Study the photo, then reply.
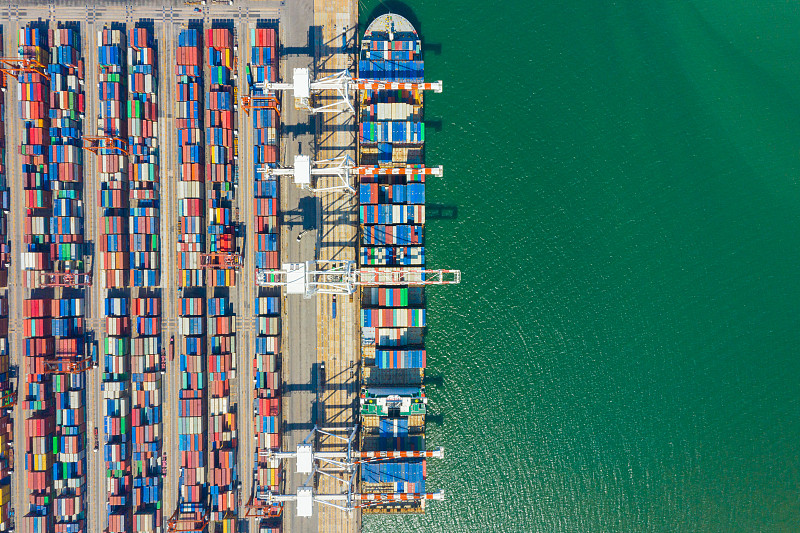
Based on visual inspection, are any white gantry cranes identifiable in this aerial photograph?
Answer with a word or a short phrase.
Yes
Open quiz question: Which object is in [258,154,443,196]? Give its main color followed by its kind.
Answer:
white container crane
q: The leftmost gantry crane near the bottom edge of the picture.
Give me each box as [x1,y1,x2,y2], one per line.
[165,503,209,531]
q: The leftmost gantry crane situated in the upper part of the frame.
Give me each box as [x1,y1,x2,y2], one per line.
[0,58,51,82]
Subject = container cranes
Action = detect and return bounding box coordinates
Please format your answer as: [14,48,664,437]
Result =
[260,420,445,471]
[244,492,284,517]
[240,95,280,118]
[39,270,91,288]
[258,154,443,196]
[165,503,209,531]
[200,252,244,269]
[80,135,130,156]
[0,58,51,82]
[254,256,462,299]
[41,353,92,374]
[257,68,443,118]
[261,458,445,515]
